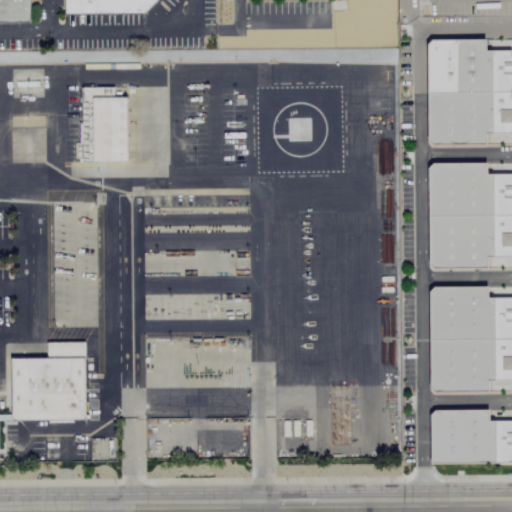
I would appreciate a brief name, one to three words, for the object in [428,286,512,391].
building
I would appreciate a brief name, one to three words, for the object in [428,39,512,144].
building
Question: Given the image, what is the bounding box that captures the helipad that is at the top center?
[257,82,348,177]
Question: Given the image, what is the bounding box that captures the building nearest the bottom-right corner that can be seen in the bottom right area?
[430,408,512,464]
